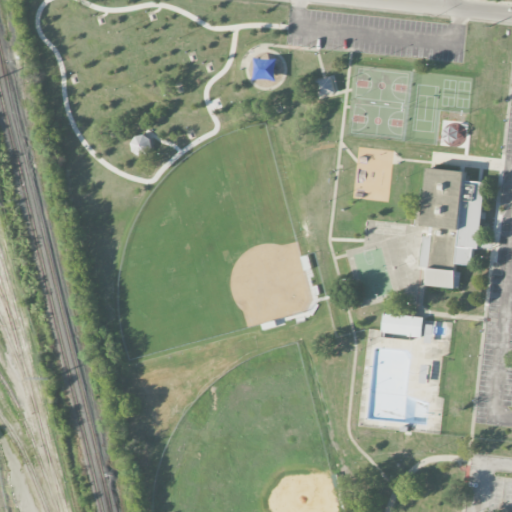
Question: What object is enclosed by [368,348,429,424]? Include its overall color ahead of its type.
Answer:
white swimming pool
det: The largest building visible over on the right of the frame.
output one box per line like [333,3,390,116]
[416,168,482,289]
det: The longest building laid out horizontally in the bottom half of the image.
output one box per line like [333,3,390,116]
[381,314,424,338]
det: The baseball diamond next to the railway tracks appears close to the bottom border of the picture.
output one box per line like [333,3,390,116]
[153,343,342,512]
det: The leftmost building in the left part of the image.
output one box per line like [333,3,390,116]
[130,134,151,155]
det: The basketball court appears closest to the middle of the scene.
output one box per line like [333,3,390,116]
[356,250,391,295]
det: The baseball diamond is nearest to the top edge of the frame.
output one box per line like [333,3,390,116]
[119,125,318,358]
